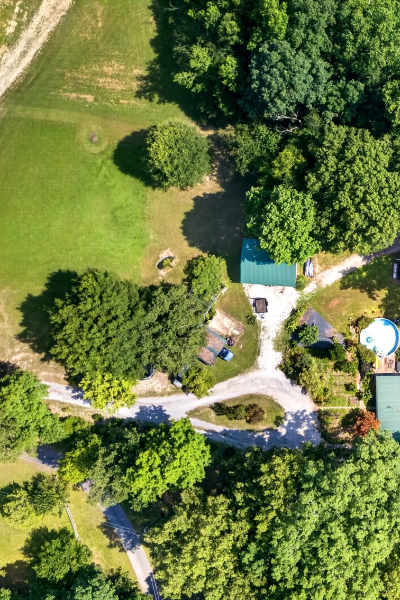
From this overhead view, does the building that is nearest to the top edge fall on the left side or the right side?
right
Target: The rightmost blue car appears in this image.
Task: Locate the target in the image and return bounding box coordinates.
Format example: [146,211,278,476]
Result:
[216,347,231,362]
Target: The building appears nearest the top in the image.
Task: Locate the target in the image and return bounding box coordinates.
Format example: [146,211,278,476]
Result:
[239,236,298,287]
